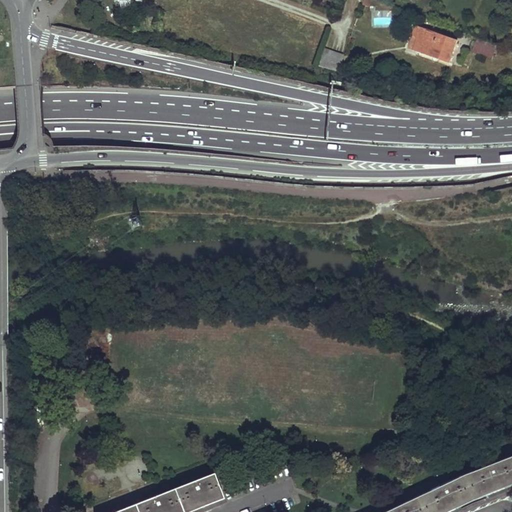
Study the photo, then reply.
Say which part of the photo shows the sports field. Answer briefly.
bottom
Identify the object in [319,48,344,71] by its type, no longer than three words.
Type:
shed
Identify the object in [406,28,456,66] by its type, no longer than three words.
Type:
house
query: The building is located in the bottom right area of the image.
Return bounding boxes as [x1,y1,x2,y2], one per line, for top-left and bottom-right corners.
[386,456,512,512]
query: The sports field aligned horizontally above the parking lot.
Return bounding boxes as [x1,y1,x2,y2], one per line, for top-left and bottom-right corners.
[109,322,404,442]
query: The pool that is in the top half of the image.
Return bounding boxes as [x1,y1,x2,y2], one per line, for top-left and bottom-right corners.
[371,10,392,28]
